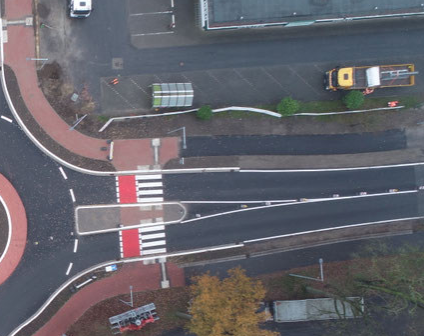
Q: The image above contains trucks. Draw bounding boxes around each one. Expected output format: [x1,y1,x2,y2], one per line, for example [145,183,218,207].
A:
[252,296,369,324]
[320,64,418,92]
[67,0,93,21]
